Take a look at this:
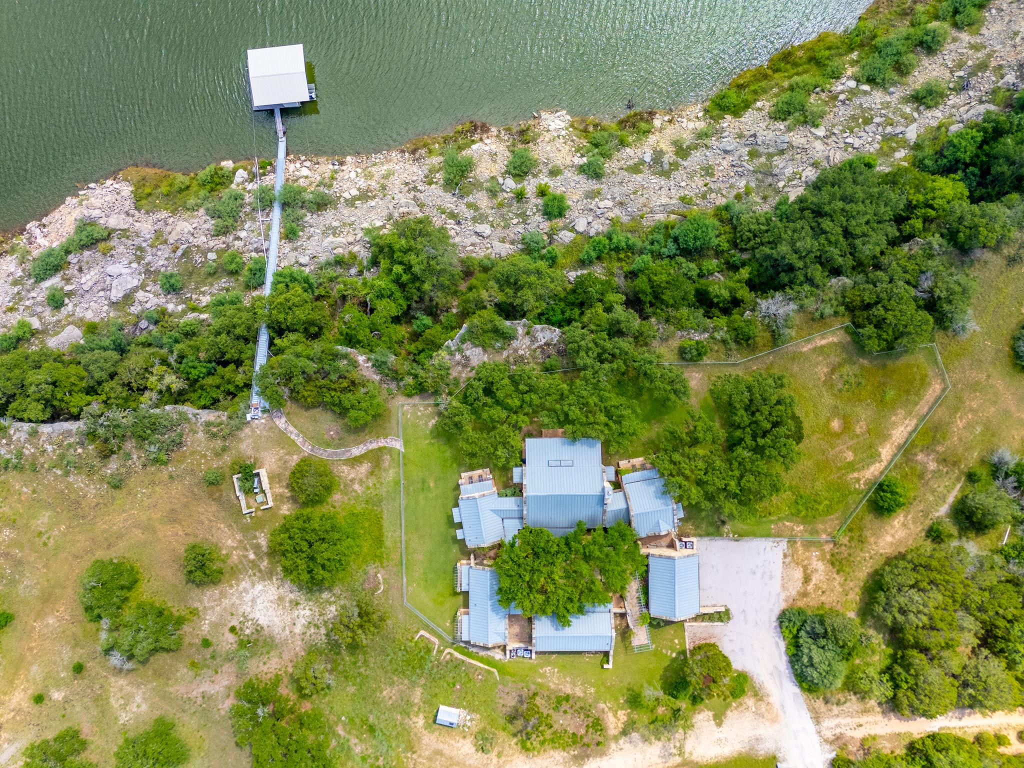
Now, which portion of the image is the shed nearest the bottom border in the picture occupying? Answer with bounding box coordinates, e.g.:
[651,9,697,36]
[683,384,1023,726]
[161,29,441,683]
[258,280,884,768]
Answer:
[437,698,461,733]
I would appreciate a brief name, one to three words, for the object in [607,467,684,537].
building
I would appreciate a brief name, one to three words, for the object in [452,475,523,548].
building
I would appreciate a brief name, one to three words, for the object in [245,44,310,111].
pier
